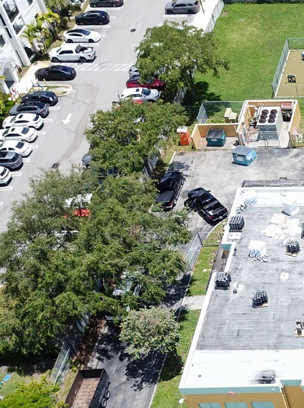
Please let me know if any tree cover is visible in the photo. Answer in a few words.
Yes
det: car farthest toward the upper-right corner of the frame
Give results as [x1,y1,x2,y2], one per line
[163,0,201,14]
